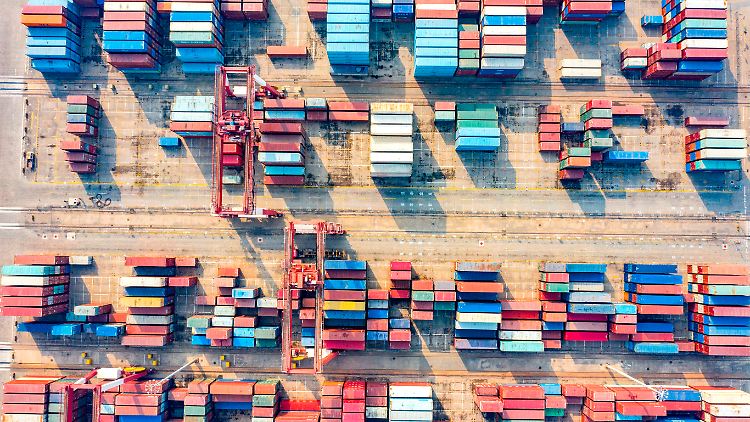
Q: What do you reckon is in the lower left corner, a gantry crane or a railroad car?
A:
gantry crane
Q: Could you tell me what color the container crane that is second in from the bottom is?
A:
red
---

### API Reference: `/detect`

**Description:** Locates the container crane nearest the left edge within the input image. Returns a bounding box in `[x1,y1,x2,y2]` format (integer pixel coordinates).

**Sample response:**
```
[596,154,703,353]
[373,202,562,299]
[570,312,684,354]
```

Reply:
[65,361,162,422]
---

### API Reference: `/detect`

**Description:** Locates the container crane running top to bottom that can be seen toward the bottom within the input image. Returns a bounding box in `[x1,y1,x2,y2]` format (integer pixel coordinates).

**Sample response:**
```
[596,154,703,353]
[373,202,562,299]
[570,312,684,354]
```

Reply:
[282,224,352,376]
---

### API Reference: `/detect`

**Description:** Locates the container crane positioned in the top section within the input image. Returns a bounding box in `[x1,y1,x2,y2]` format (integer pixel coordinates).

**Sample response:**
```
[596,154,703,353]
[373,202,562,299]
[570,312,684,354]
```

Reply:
[211,65,292,220]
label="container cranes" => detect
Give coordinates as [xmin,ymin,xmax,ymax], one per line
[65,361,162,422]
[282,224,352,376]
[211,65,292,220]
